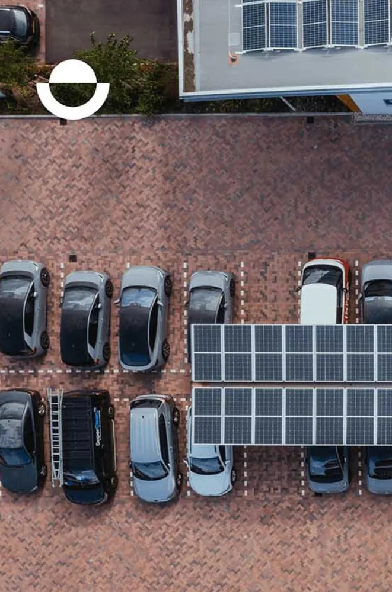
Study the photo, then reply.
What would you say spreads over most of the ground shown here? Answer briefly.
paved ground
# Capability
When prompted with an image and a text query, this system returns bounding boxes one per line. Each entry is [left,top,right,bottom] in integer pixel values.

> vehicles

[0,5,44,51]
[302,257,353,323]
[301,446,351,495]
[185,271,238,367]
[119,265,176,372]
[47,388,119,506]
[0,260,54,359]
[61,270,117,370]
[0,389,48,495]
[185,402,237,497]
[359,435,392,496]
[358,260,392,343]
[127,395,182,504]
